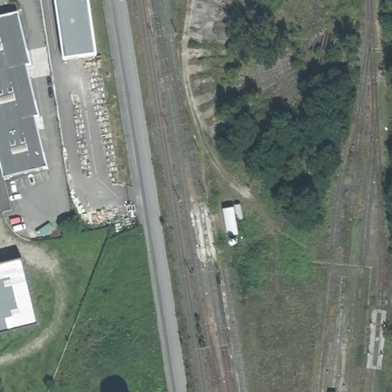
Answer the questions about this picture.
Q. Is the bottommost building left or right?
left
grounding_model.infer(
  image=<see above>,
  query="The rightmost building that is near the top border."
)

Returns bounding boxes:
[54,0,98,60]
